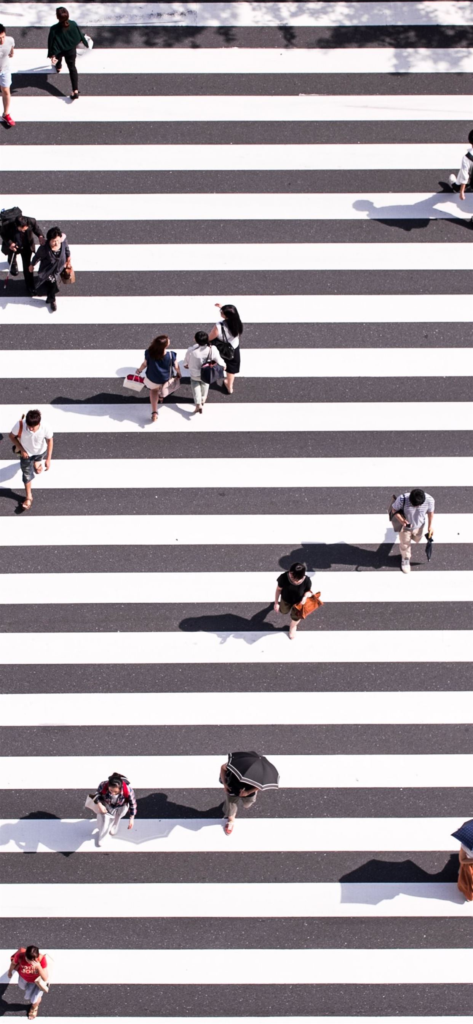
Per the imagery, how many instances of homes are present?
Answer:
zero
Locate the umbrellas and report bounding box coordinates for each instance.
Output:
[226,746,283,800]
[425,528,434,560]
[451,819,473,850]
